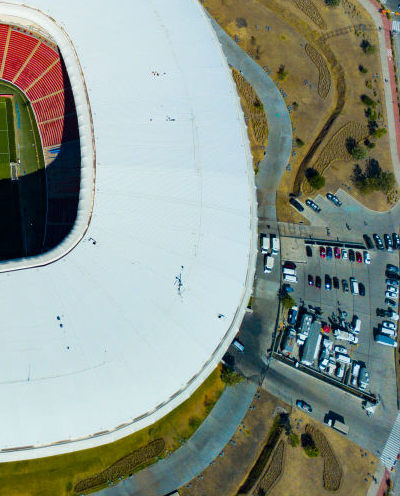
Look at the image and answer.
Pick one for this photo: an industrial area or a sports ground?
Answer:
sports ground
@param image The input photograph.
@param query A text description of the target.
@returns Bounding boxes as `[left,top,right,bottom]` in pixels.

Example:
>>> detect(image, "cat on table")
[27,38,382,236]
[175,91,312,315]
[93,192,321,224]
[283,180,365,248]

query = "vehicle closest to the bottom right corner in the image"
[325,417,351,433]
